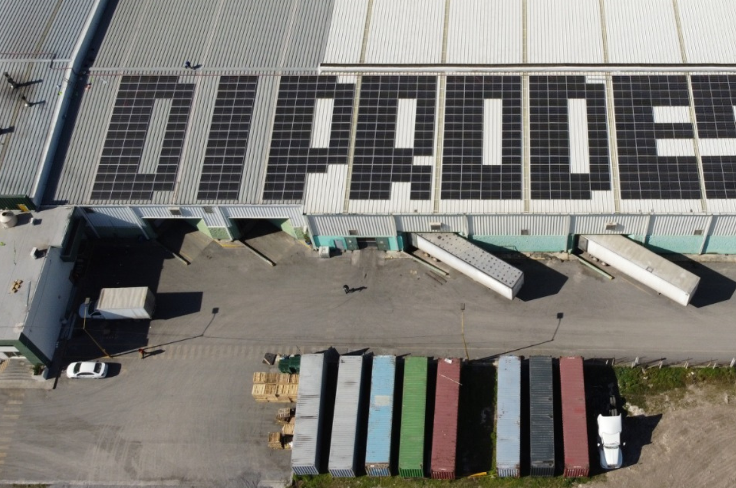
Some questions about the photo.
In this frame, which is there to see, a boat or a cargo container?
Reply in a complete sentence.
The one in the frame is a cargo container.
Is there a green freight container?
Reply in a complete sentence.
Yes, you can see a green freight container in this photo.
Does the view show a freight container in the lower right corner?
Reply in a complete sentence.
Yes, you'll find a freight container in the lower right corner.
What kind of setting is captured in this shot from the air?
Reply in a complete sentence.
The picture captures an industrial area.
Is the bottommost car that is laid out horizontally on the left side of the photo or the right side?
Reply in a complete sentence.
It is on the left.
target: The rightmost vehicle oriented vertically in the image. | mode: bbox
[595,390,623,471]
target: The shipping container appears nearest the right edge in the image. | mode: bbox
[560,357,589,475]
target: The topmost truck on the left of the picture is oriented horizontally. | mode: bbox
[77,288,153,319]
